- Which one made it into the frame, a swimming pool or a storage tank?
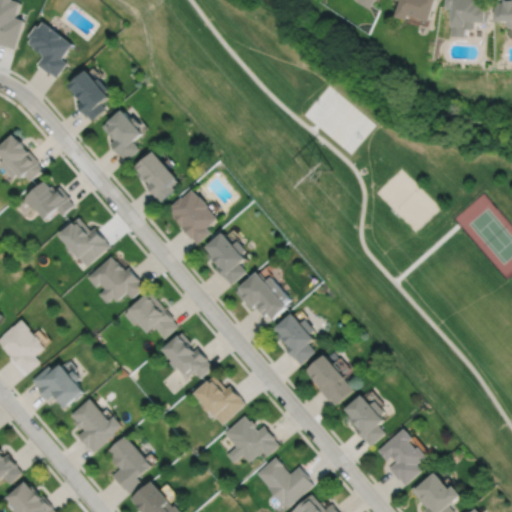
swimming pool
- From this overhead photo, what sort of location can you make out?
residential area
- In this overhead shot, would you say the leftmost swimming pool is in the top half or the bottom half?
top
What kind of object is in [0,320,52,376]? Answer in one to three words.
house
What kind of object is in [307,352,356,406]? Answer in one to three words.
house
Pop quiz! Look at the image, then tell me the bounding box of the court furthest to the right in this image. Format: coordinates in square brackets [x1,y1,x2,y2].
[456,193,512,279]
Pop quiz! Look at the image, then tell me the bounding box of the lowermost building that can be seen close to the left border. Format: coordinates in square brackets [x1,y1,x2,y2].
[6,483,55,512]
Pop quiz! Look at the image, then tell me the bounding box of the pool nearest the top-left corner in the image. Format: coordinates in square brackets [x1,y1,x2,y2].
[62,4,100,41]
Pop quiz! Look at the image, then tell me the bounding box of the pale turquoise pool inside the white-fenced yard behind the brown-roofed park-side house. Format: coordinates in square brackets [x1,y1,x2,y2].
[201,172,240,213]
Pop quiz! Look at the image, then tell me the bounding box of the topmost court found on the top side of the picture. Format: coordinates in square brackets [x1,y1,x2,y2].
[306,86,376,155]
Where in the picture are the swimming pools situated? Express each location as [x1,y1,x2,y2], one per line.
[62,4,100,41]
[201,172,240,213]
[498,39,512,68]
[442,8,494,65]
